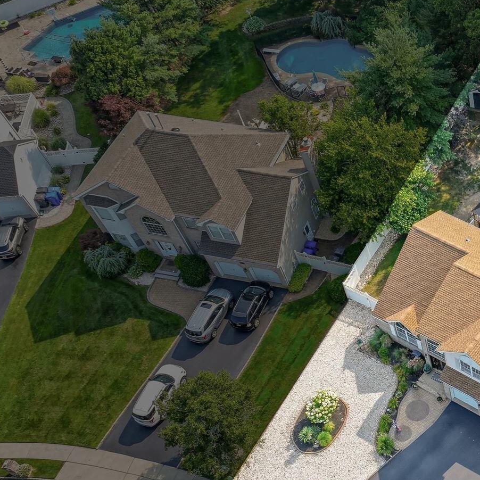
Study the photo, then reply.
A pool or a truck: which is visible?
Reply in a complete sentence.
This aerial view contains a pool.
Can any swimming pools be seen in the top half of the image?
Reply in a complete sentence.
Yes, I can see a swimming pool in the top half of the image.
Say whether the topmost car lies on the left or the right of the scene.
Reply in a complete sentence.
The topmost car appears in the left half of the scene.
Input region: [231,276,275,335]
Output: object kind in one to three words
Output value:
car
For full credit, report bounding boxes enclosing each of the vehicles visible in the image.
[184,285,239,347]
[0,213,34,263]
[129,361,189,429]
[231,276,275,335]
